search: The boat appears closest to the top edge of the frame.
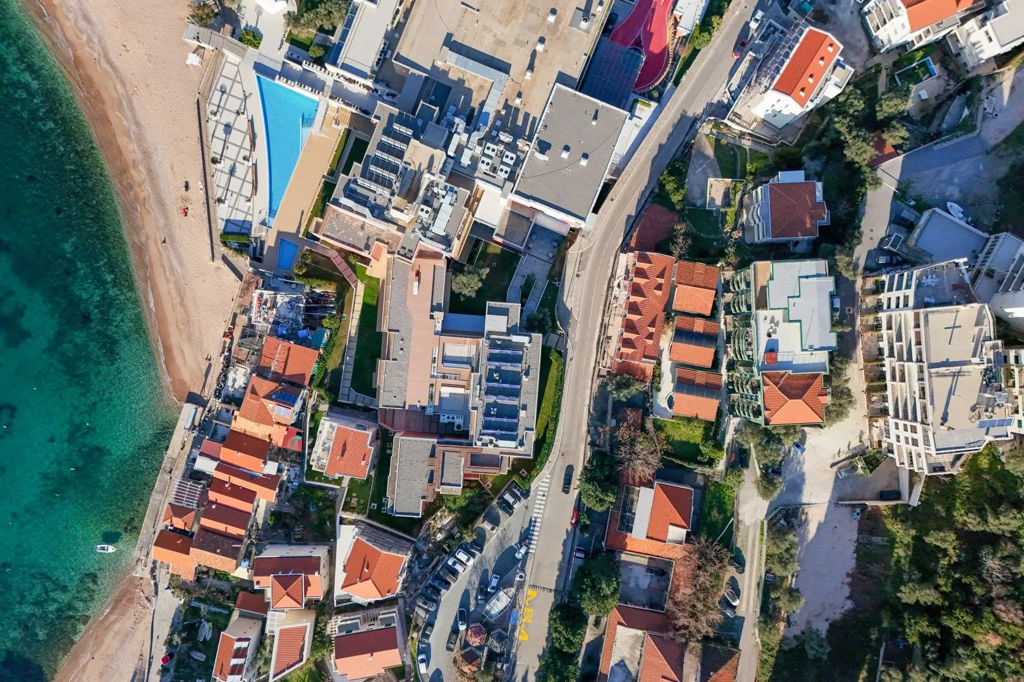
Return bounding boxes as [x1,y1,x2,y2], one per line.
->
[947,202,971,222]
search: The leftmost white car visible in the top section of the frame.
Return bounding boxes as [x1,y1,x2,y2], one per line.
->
[746,9,764,30]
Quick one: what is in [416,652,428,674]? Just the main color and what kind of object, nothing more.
white vehicle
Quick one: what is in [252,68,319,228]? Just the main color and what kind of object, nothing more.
blue swimming pool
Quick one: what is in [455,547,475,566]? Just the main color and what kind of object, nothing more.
white car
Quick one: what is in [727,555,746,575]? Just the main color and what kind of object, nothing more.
black car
